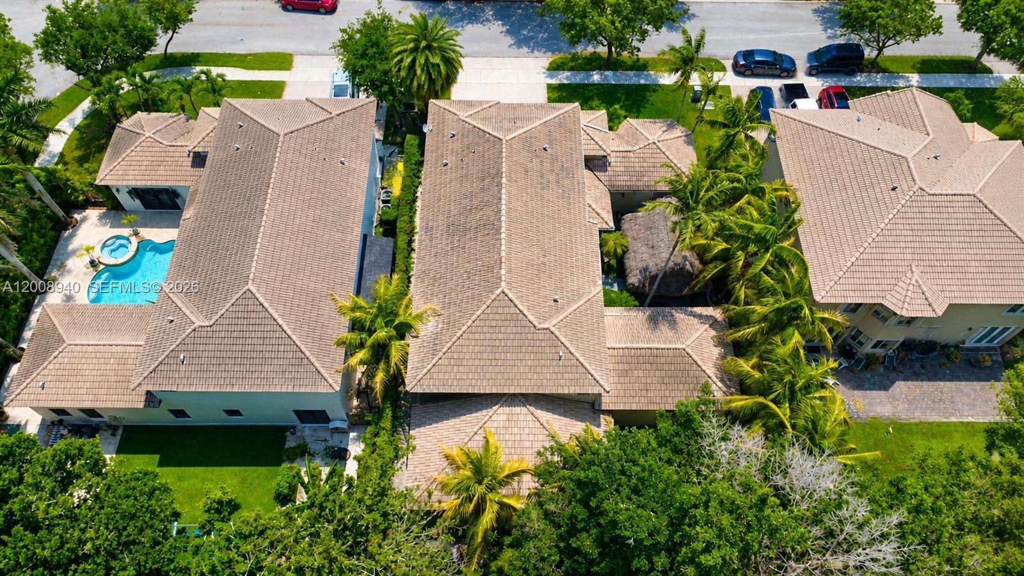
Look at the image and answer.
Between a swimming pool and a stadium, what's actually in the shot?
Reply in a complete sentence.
Of the two, only a swimming pool appears.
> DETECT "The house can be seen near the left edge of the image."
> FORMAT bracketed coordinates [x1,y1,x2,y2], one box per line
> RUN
[2,94,380,423]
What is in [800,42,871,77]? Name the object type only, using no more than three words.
car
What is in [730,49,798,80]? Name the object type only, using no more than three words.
car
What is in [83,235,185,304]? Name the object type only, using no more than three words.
swimming pool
